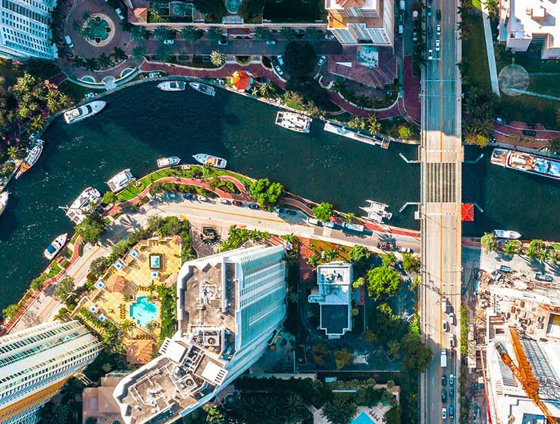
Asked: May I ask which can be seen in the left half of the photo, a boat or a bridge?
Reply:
boat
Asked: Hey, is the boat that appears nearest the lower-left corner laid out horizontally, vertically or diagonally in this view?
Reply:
diagonally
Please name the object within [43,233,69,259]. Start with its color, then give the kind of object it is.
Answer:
white boat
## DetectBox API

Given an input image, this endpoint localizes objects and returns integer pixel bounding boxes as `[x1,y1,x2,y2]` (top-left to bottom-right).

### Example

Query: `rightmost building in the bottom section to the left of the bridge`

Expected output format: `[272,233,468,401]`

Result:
[302,262,356,341]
